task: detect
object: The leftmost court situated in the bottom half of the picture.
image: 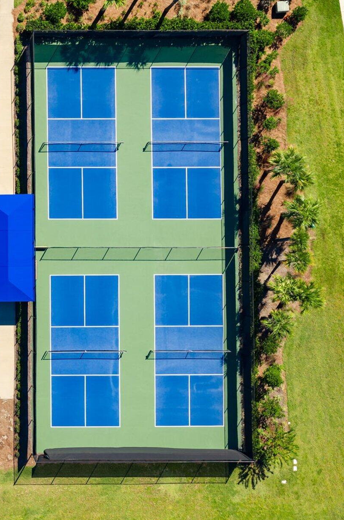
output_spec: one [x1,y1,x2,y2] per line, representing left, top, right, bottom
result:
[34,248,137,453]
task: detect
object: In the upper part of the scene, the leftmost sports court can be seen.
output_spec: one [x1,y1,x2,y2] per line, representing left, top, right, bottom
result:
[33,38,136,247]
